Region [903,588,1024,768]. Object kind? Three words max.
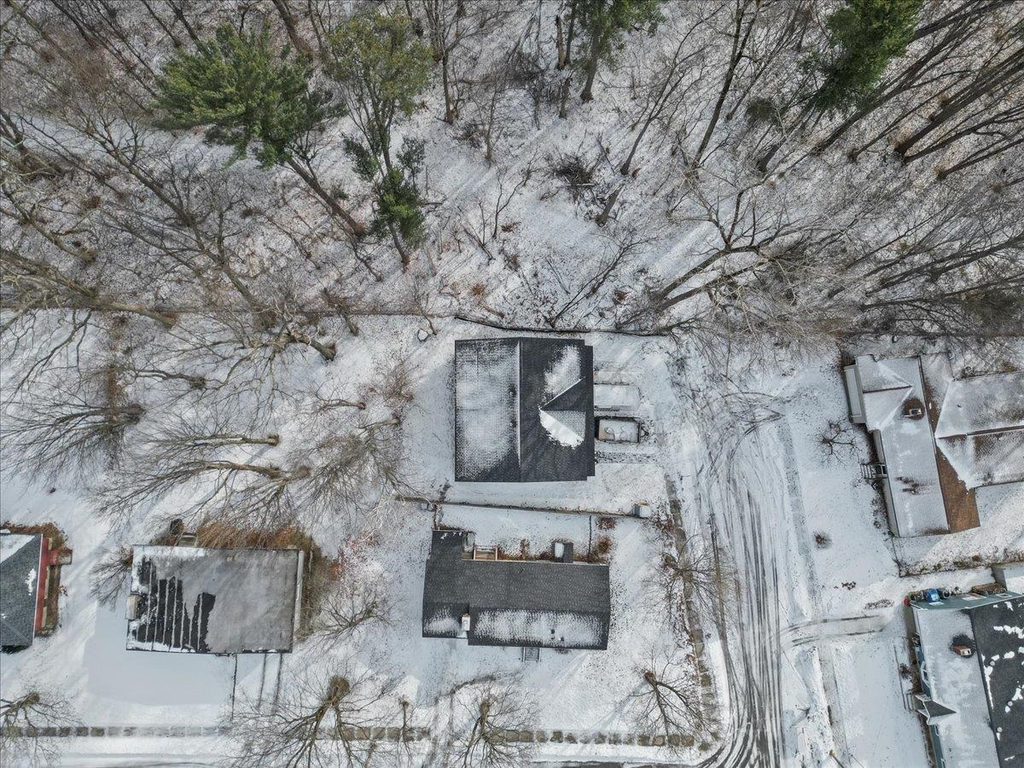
house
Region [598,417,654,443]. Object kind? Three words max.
trailer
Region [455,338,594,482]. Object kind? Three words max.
house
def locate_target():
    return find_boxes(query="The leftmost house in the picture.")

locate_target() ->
[0,531,81,647]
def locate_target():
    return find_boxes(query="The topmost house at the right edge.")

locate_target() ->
[832,352,1024,537]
